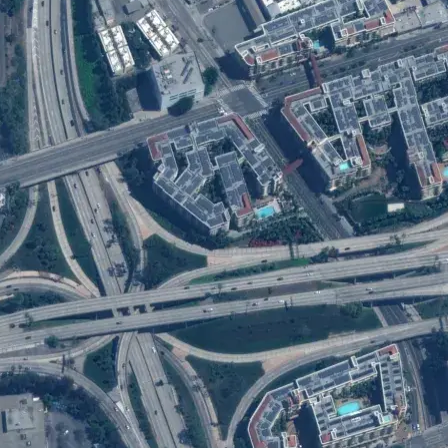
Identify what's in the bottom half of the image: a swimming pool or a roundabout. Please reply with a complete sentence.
Looking in the bottom half of the image, you will find a swimming pool.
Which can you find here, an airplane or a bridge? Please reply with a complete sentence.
There is a bridge in the scene.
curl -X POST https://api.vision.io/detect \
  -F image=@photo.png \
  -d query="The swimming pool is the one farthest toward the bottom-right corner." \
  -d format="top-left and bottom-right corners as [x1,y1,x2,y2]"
[382,411,395,430]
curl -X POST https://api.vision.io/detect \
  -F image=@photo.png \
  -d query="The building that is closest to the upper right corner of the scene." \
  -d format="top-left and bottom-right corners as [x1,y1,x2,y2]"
[428,0,448,26]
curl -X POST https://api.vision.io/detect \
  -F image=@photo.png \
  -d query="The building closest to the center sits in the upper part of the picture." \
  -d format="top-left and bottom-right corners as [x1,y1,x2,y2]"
[146,108,282,236]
